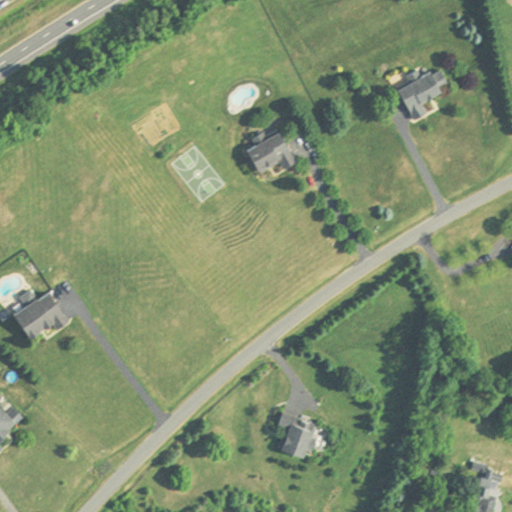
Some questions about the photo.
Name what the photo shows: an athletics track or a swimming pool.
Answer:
swimming pool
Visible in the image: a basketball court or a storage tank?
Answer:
basketball court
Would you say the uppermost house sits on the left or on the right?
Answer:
right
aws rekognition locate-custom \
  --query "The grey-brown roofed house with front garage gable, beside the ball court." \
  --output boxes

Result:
[247,130,294,174]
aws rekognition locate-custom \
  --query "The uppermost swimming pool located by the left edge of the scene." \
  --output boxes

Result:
[0,273,32,308]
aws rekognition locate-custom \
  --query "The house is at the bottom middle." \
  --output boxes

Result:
[282,425,320,462]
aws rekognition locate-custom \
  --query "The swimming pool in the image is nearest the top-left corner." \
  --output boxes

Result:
[228,83,260,114]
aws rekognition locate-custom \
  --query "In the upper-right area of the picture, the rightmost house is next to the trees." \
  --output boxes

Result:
[397,70,446,116]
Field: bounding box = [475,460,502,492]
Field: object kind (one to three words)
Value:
house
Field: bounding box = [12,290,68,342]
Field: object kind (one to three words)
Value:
house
